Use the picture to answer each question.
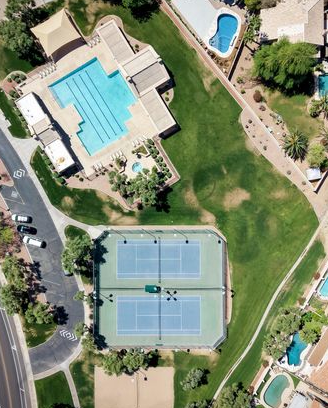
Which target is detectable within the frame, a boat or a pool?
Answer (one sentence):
I can see a pool in this picture.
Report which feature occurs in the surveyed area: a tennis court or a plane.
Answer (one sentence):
This aerial view contains a tennis court.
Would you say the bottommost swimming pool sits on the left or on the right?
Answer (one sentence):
The bottommost swimming pool is on the right side of the image.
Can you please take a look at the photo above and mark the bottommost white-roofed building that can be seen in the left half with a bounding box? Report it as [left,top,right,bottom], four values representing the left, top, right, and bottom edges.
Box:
[44,141,76,173]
